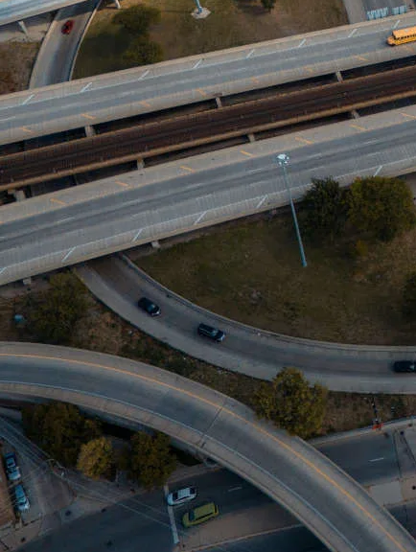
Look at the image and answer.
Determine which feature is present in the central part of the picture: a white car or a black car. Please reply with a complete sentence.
The one visible in the central part of the picture is a black car.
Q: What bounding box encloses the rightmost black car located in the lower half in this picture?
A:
[394,360,416,373]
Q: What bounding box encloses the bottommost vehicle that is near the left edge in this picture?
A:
[12,480,30,516]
